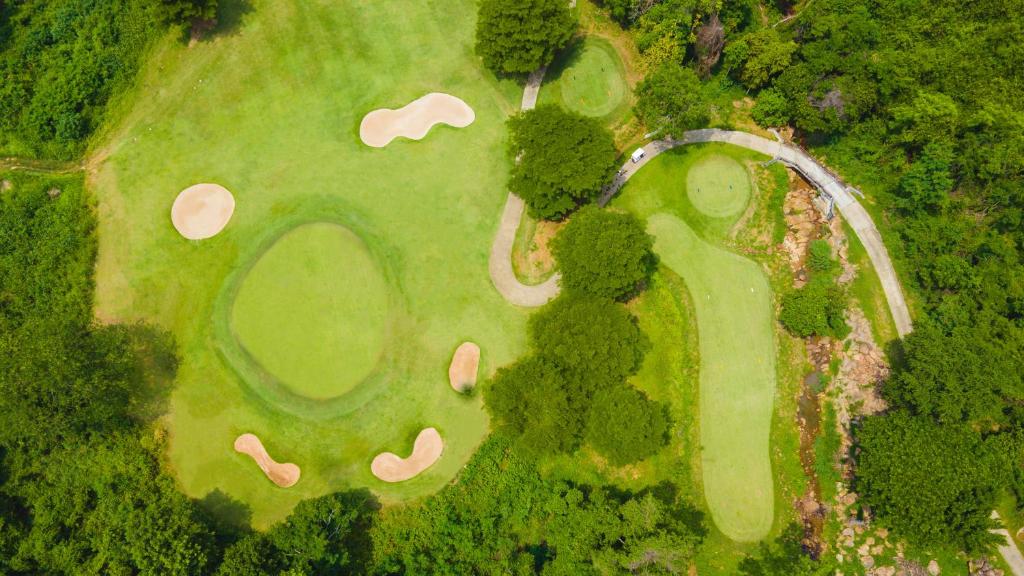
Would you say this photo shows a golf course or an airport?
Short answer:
golf course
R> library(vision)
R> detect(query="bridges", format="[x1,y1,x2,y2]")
[762,133,865,221]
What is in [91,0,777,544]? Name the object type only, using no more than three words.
golf course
